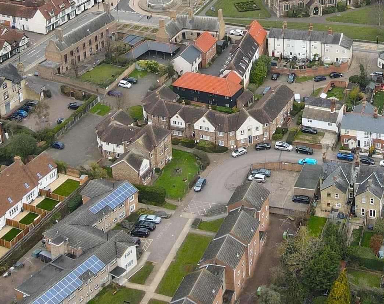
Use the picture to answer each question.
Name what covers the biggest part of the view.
buildings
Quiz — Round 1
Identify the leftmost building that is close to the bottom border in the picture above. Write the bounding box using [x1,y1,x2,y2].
[0,209,138,304]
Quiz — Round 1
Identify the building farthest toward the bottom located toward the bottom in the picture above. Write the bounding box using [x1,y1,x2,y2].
[167,266,229,304]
